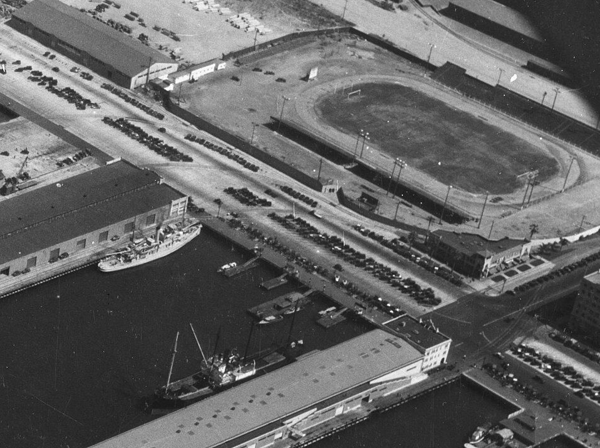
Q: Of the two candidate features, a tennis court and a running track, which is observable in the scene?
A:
running track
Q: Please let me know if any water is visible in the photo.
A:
Yes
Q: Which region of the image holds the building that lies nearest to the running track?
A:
right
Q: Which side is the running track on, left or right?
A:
right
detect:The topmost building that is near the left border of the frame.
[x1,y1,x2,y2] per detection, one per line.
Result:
[11,0,181,88]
